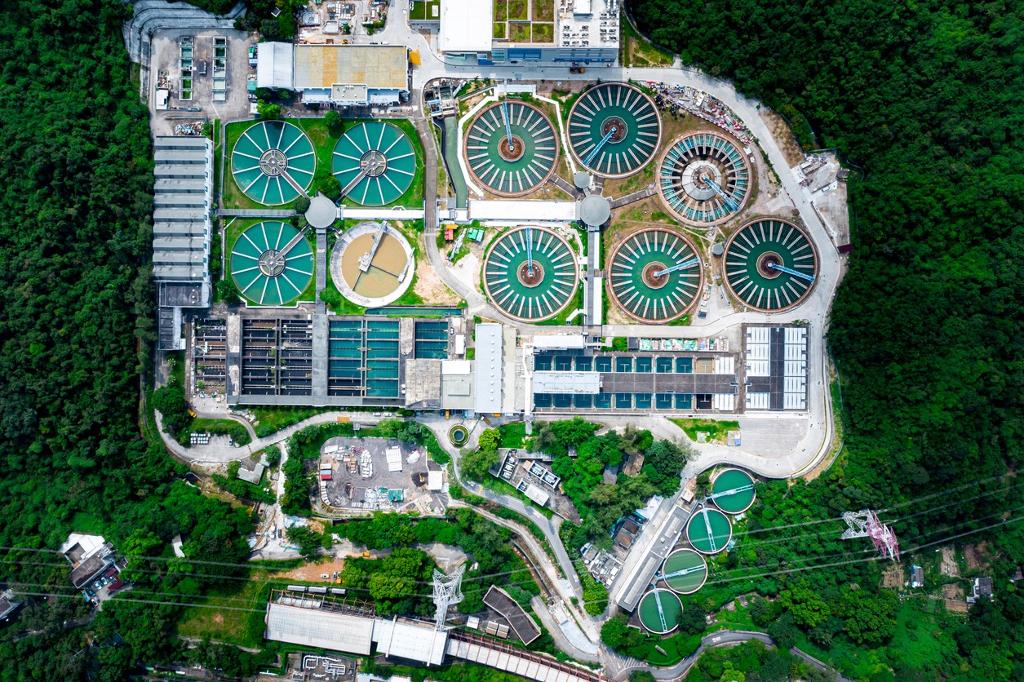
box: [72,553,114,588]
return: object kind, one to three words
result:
house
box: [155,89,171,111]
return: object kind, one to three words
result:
shed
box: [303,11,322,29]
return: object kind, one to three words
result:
building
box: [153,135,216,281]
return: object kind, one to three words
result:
building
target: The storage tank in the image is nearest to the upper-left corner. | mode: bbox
[232,121,317,206]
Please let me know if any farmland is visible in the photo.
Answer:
No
